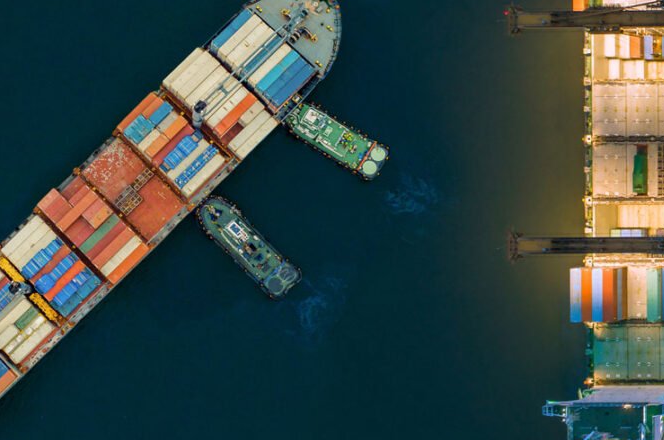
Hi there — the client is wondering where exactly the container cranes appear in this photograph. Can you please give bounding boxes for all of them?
[506,227,664,262]
[506,0,664,37]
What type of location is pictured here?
port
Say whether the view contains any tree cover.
No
